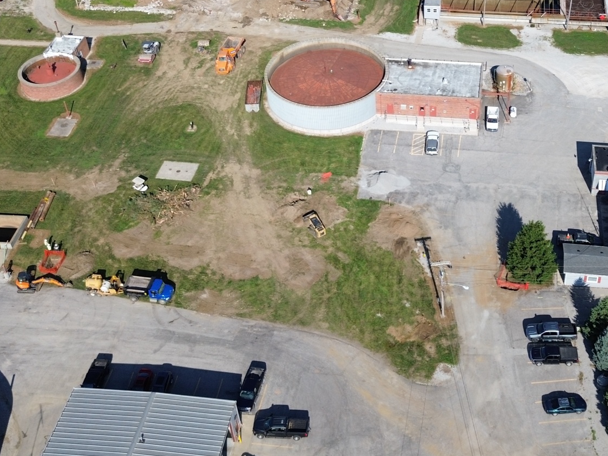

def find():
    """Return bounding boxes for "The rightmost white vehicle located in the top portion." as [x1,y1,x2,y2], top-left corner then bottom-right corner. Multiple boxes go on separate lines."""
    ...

[485,104,502,133]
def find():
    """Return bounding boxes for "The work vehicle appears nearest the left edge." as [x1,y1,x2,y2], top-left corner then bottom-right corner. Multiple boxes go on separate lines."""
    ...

[13,274,77,297]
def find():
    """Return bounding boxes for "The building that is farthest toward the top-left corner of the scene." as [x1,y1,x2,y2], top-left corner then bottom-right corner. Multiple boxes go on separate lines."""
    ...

[43,16,92,66]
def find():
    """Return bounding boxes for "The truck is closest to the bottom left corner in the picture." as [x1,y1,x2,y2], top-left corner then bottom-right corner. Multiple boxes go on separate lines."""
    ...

[79,354,113,389]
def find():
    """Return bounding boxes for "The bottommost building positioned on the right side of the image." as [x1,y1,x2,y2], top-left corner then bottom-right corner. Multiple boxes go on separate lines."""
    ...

[564,243,608,288]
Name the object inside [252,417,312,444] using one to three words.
truck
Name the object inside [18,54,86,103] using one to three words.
storage tank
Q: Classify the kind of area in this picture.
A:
industrial area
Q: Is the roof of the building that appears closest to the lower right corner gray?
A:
Yes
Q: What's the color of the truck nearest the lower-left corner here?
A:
black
